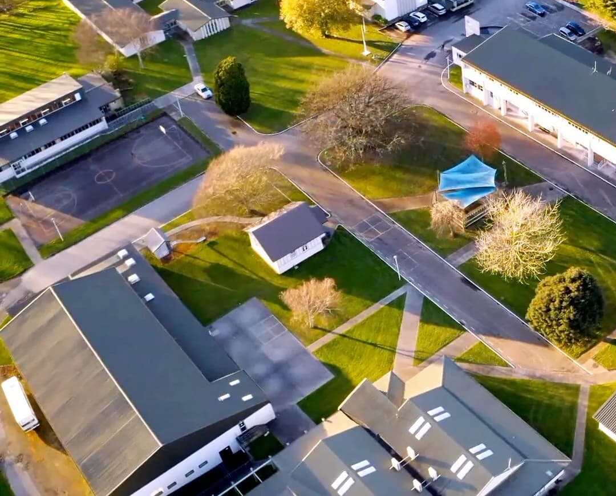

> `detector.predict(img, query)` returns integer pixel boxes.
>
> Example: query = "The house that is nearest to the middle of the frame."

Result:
[244,200,341,273]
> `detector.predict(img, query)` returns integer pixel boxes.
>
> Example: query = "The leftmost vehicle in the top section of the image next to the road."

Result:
[194,82,212,98]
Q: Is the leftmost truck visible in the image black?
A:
No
